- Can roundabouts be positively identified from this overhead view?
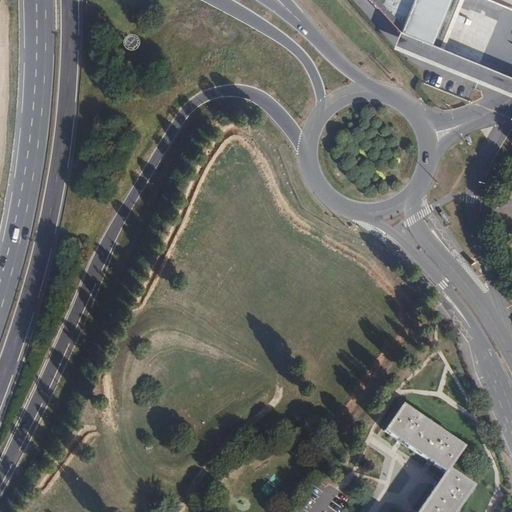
Yes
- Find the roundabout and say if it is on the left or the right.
right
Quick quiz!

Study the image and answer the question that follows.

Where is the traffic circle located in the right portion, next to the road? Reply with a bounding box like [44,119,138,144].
[298,82,441,240]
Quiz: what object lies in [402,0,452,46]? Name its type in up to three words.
building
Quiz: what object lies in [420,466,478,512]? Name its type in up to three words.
building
